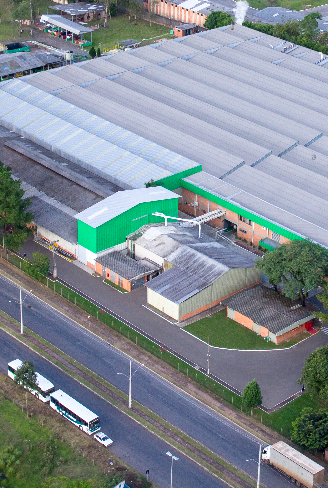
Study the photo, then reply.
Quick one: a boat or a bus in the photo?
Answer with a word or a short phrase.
bus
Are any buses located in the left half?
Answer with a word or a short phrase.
Yes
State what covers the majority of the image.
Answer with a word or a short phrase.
buildings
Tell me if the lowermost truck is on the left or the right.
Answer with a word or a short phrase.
right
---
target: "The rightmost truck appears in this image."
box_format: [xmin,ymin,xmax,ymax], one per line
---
[262,442,324,488]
